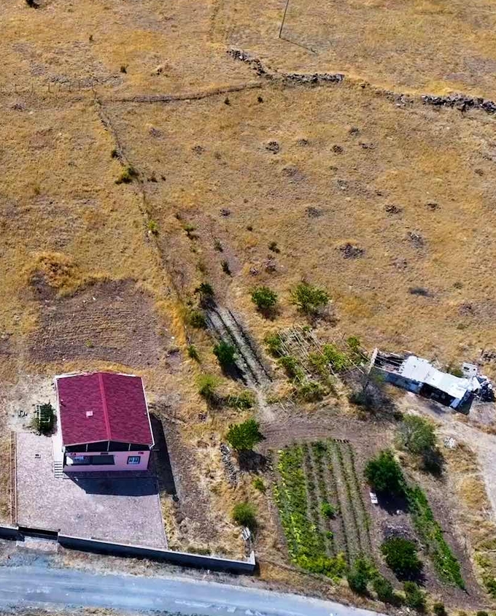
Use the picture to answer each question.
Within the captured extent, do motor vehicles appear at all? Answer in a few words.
No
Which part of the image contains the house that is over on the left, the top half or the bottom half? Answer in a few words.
bottom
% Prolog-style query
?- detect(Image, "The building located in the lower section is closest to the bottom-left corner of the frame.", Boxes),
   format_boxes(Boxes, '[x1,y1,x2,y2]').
[50,371,156,479]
